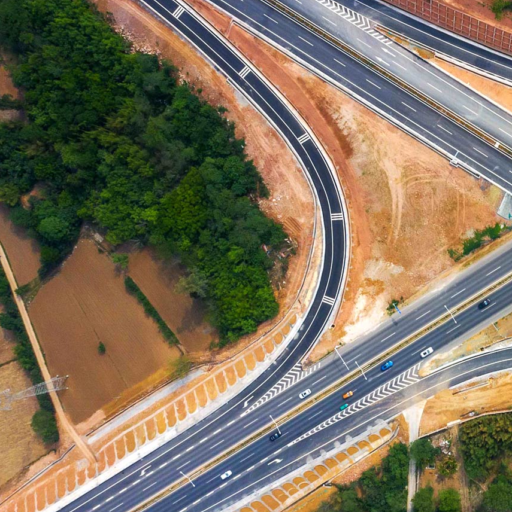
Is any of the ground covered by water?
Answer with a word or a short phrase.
No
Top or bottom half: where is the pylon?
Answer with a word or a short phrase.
bottom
